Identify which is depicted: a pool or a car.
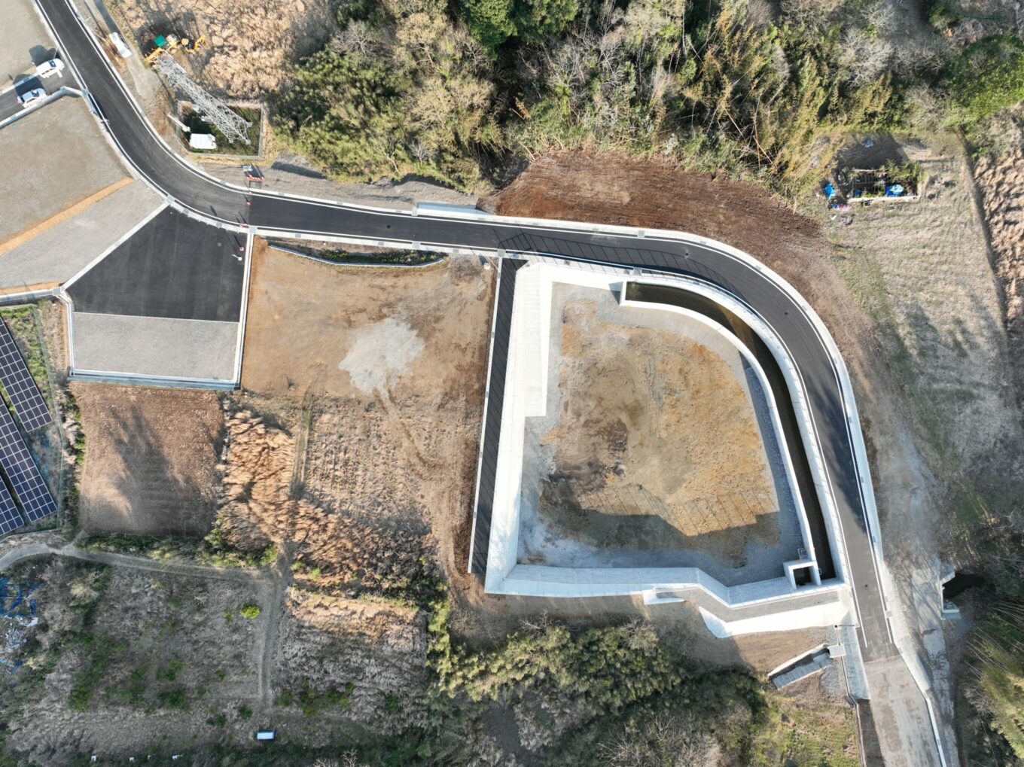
car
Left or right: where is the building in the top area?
left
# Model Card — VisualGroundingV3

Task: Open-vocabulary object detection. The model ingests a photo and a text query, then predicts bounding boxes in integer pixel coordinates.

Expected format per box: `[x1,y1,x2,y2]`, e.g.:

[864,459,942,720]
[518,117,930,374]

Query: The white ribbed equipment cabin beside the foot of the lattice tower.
[185,132,218,152]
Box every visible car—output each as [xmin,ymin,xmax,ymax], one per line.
[35,62,70,81]
[111,34,134,63]
[20,88,50,107]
